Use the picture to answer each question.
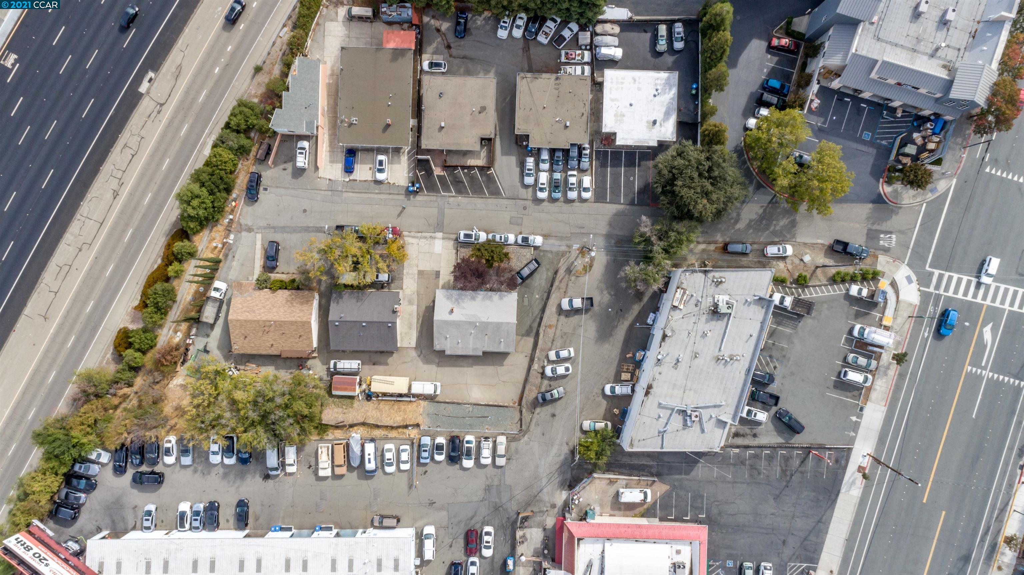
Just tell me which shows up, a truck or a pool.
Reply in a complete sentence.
Of the two, only a truck appears.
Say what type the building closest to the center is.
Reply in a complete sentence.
In the photo, the building closest to the center shows up as a home.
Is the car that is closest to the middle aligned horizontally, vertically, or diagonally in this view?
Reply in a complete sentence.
The car that is closest to the middle is laid out diagonally.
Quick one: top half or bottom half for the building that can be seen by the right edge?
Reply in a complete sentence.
The building that can be seen by the right edge sits in the top half of the picture.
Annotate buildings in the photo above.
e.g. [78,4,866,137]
[601,69,678,149]
[433,289,518,356]
[328,290,403,351]
[332,375,361,395]
[515,73,590,151]
[807,0,1020,124]
[546,516,710,575]
[72,525,421,575]
[269,57,325,136]
[337,46,415,150]
[227,282,318,358]
[620,269,776,452]
[420,75,496,153]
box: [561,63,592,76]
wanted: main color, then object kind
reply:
white vehicle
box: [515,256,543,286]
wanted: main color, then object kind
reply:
gray car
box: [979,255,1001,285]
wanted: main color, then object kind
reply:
white car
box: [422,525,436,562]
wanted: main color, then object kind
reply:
white vehicle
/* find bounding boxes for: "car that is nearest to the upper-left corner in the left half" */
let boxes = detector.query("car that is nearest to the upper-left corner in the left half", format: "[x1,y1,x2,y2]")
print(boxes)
[118,4,141,29]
